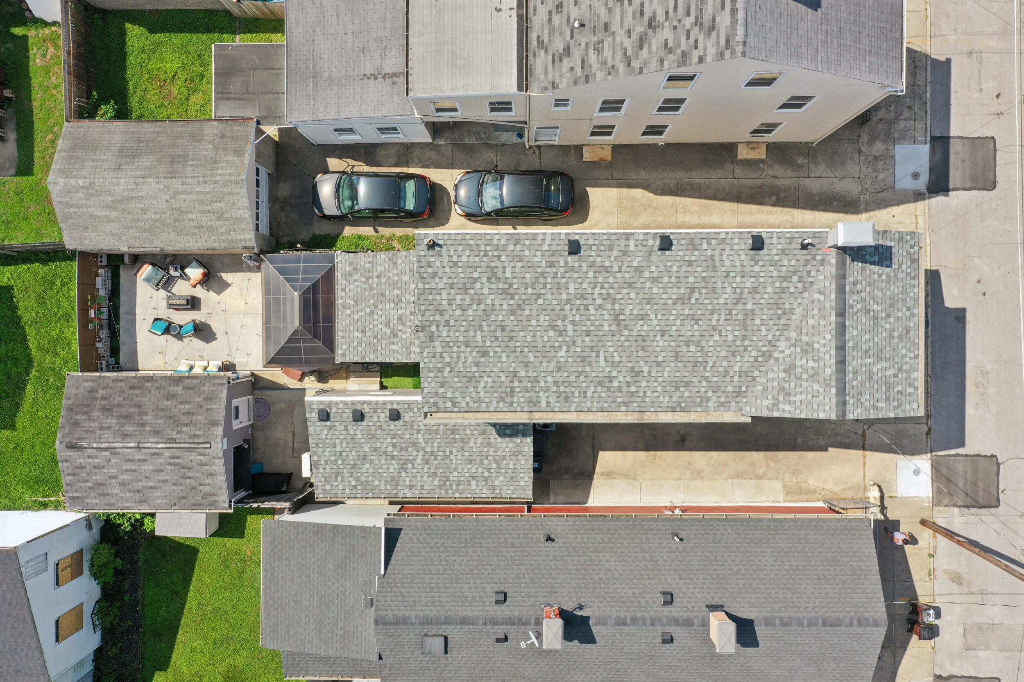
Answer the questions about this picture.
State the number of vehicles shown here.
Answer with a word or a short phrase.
2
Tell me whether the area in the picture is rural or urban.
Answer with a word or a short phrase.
urban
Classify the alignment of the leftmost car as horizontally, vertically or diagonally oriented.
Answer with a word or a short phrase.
horizontally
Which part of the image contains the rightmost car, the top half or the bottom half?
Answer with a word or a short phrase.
top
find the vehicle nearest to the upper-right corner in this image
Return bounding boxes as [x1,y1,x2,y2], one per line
[453,164,574,222]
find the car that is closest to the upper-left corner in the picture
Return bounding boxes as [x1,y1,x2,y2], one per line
[311,165,433,223]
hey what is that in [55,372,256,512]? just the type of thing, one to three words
building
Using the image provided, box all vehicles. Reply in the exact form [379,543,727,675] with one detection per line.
[453,164,574,222]
[311,165,433,223]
